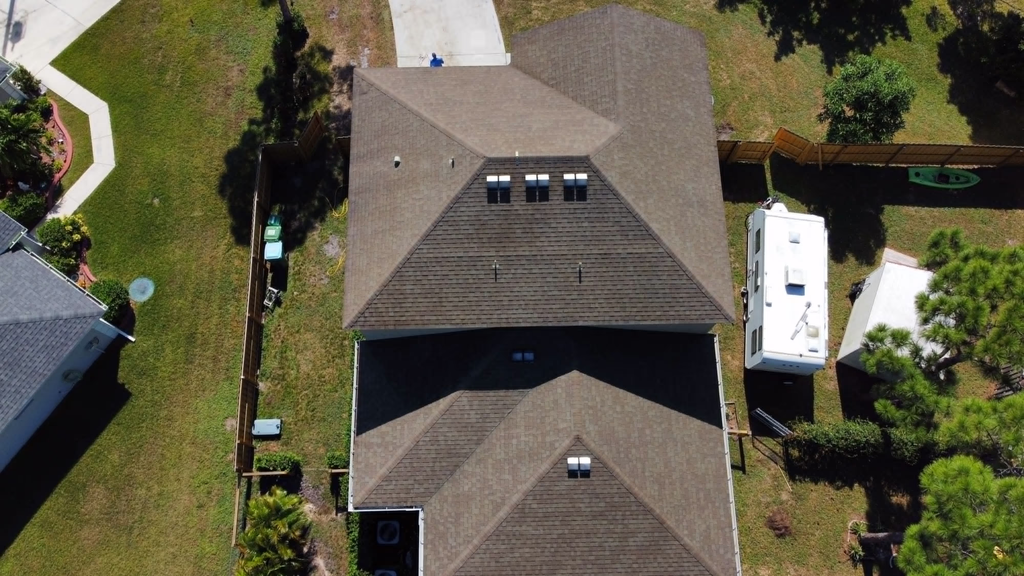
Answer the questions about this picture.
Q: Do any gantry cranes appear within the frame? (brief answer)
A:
No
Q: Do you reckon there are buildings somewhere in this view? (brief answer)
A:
Yes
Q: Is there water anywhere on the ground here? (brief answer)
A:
No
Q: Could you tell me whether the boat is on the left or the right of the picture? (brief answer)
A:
right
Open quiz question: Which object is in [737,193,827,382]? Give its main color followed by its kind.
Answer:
white trailer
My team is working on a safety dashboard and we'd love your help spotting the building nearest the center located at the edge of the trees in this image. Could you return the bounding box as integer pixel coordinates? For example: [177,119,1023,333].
[339,5,744,576]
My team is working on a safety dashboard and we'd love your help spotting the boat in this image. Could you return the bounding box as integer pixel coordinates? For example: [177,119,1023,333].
[906,167,983,188]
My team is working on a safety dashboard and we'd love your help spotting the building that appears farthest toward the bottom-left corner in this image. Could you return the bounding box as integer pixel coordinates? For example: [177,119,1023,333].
[0,206,135,471]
